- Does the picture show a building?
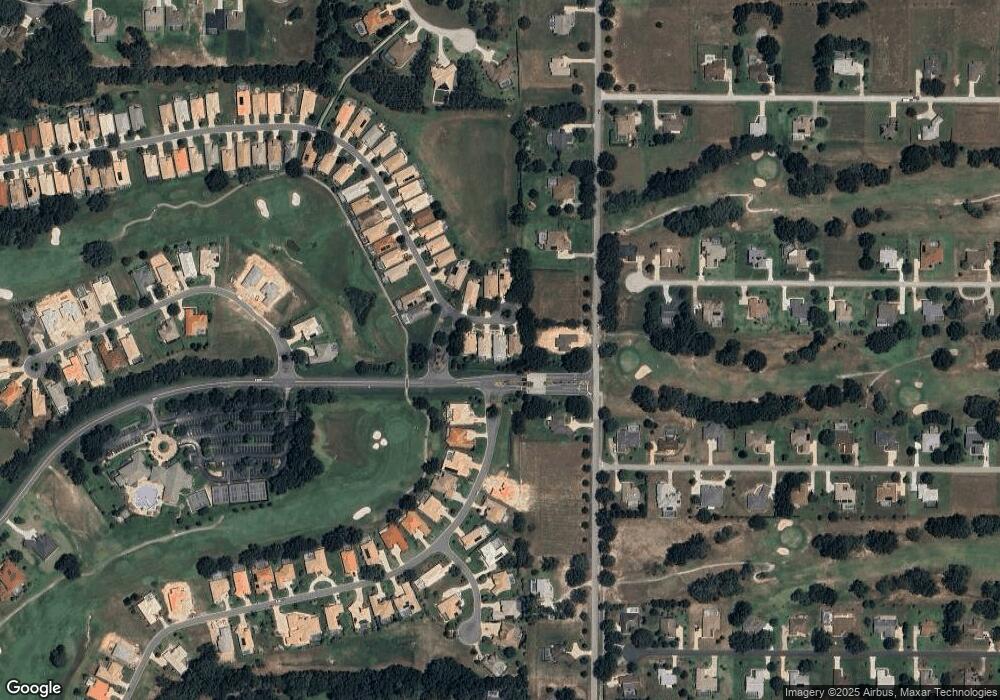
Yes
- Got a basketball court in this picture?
No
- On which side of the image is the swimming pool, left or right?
left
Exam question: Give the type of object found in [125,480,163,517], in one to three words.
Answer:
swimming pool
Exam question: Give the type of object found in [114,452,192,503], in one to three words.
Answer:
building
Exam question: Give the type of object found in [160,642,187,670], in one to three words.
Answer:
house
